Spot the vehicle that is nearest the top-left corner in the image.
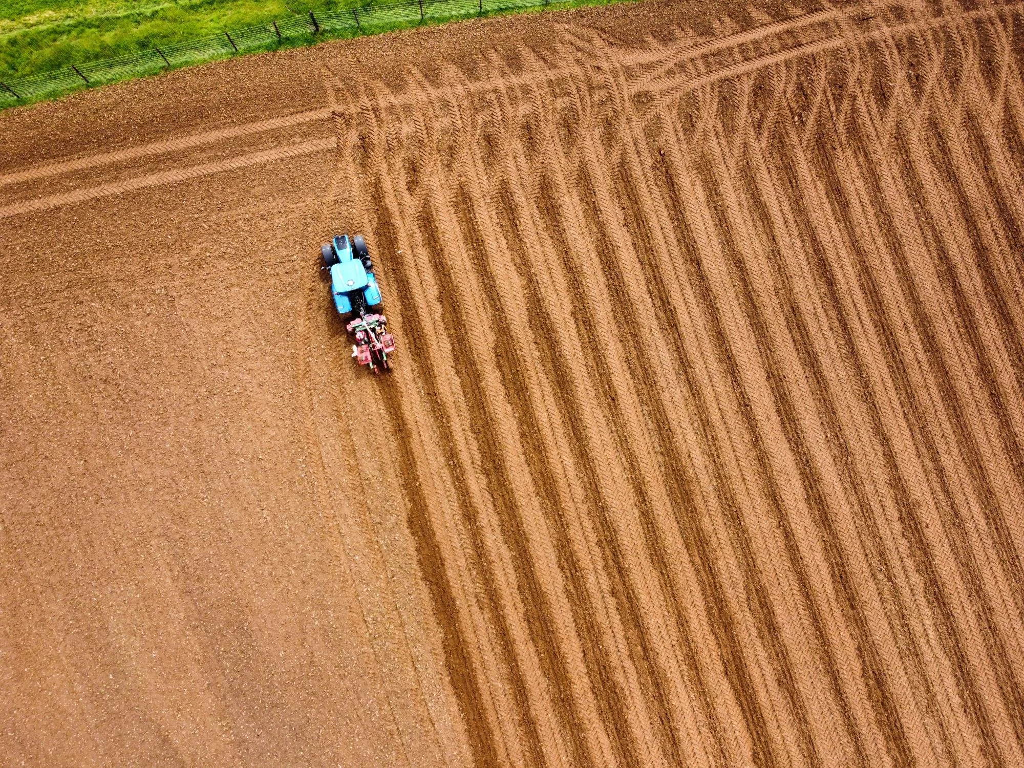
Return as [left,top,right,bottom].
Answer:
[321,234,384,320]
